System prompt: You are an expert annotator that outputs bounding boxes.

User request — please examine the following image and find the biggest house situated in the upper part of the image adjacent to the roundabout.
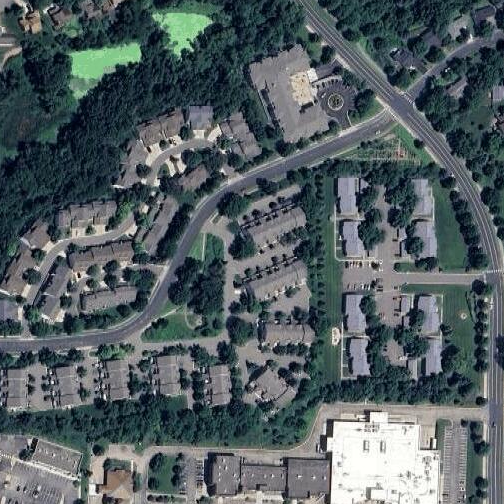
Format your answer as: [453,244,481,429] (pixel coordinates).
[250,44,329,148]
